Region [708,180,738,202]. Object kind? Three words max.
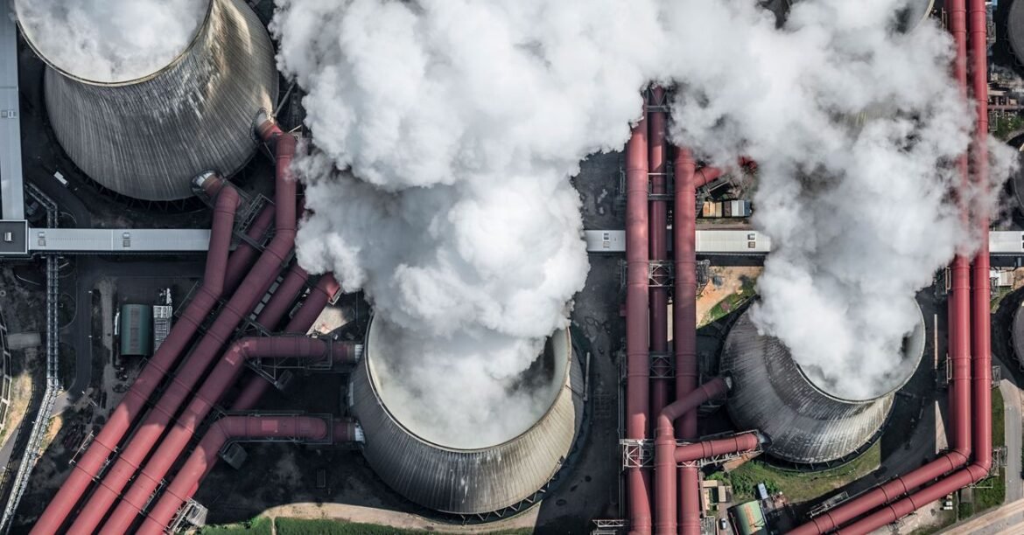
house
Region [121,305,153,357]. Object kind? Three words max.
hangar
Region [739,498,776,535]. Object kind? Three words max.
hangar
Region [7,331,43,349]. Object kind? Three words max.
shed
